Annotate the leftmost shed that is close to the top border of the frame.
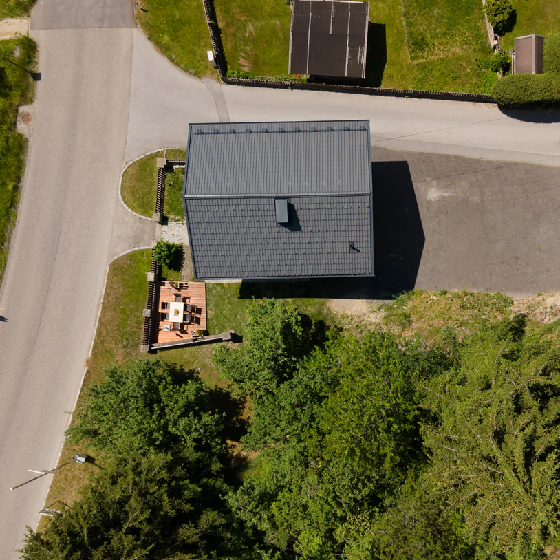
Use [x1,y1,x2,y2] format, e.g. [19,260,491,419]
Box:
[288,0,368,86]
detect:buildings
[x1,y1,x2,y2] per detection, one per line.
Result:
[508,35,544,77]
[180,117,374,282]
[288,0,368,86]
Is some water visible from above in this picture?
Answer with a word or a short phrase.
No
